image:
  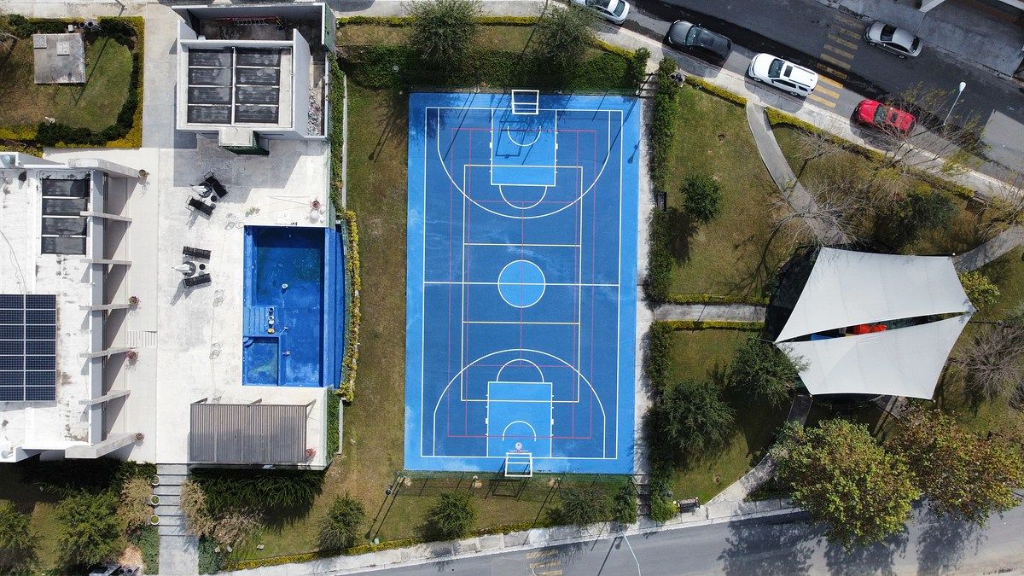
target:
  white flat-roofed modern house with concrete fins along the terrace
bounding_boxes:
[0,148,142,468]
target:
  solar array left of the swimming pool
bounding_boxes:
[0,294,57,401]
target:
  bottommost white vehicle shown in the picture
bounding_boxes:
[750,52,821,97]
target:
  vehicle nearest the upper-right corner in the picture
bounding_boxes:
[862,18,925,60]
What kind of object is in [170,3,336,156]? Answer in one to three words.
building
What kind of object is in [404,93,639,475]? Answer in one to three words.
basketball court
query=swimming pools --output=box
[241,224,349,388]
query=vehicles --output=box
[669,18,734,64]
[571,0,631,20]
[862,18,925,60]
[855,97,917,135]
[750,52,821,97]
